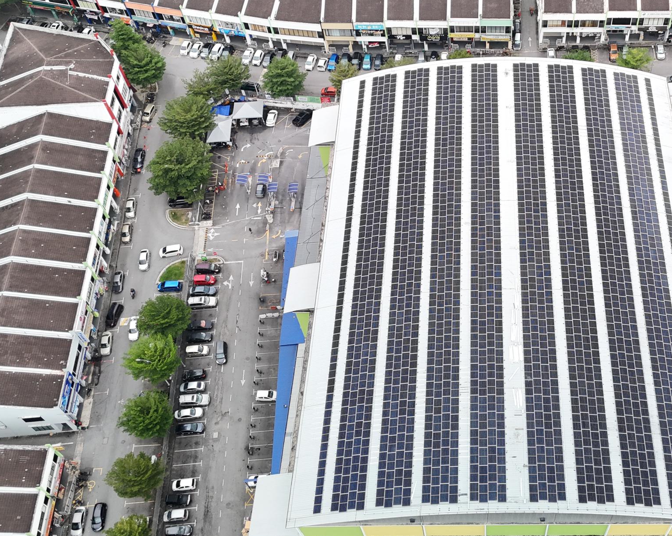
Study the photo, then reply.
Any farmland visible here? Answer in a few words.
No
